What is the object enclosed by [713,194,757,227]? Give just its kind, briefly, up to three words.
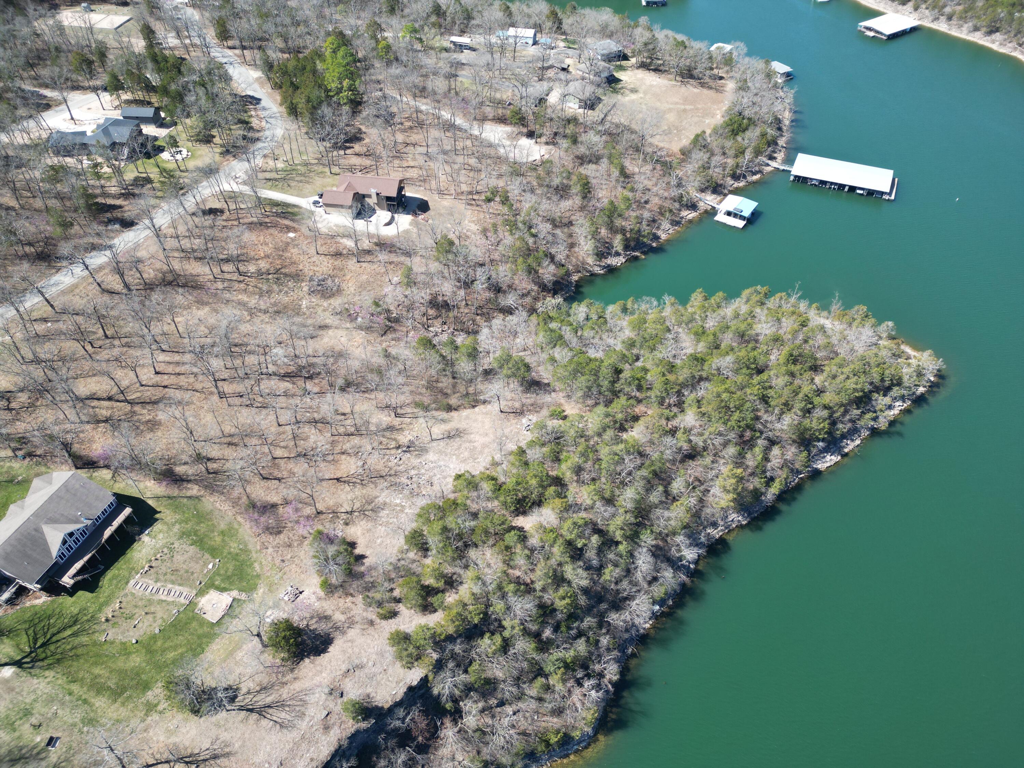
pier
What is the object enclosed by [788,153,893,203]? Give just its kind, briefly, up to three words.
pier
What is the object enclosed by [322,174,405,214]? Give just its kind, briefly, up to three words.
house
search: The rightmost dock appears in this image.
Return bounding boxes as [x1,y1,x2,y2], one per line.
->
[855,13,919,41]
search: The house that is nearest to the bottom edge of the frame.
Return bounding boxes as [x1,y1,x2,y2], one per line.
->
[0,469,141,602]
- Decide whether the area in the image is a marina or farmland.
marina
